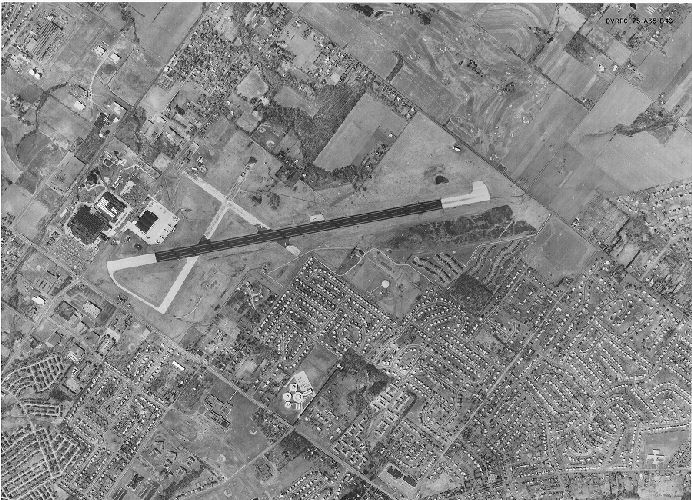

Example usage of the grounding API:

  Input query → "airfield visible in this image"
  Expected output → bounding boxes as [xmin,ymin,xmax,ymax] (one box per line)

[84,113,550,352]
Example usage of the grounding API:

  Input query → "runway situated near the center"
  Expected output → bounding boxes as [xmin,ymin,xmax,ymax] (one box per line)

[155,199,442,263]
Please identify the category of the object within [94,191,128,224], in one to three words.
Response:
building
